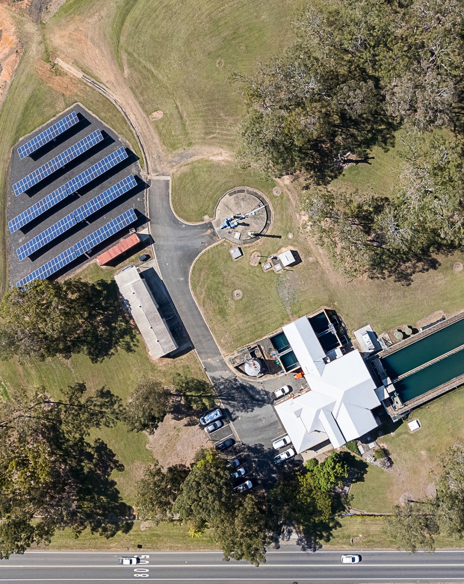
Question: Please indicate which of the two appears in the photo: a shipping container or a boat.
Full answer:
It is a shipping container that can be seen here.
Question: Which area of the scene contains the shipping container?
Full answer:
The shipping container sits in the left section of the image.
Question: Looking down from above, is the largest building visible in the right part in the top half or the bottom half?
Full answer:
The largest building visible in the right part sits in the bottom half of the picture.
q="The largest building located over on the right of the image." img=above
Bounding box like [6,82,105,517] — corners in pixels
[275,316,381,454]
